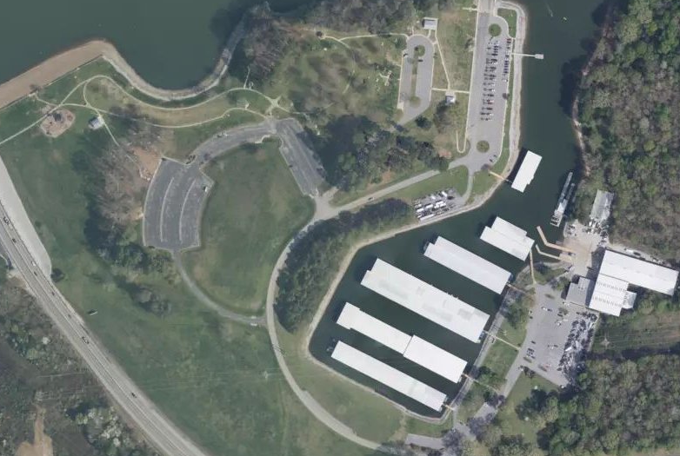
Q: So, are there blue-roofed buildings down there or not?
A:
No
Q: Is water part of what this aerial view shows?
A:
Yes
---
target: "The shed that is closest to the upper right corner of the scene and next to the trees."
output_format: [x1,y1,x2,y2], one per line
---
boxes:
[591,190,614,223]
